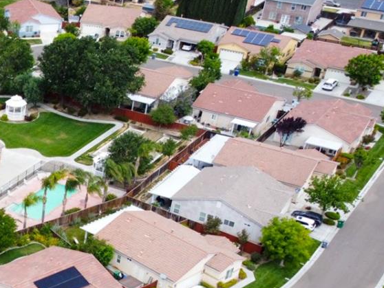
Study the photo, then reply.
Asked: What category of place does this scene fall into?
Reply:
residential area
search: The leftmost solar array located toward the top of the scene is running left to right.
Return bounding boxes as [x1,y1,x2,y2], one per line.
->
[167,17,214,31]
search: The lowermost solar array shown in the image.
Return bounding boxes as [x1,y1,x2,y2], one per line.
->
[34,267,82,288]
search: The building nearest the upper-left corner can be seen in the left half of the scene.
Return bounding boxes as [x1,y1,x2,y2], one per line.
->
[5,0,74,34]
